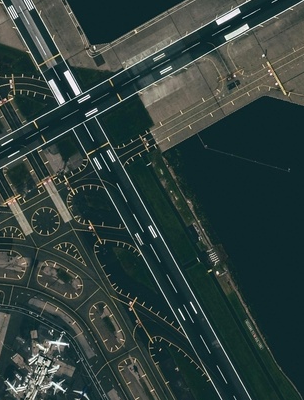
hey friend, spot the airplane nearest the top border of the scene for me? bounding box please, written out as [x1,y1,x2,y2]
[48,334,70,353]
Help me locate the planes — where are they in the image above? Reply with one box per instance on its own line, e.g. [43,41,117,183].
[72,388,88,400]
[3,379,18,394]
[48,334,70,353]
[53,380,68,396]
